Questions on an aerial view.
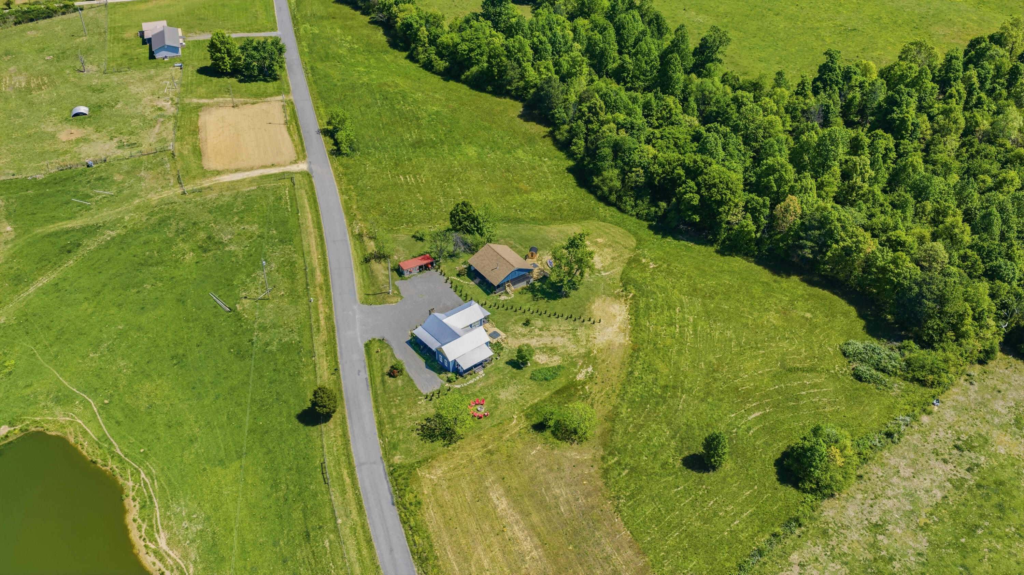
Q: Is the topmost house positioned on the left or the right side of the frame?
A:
left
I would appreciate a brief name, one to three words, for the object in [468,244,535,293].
house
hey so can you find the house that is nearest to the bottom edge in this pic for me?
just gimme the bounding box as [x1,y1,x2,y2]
[414,300,512,375]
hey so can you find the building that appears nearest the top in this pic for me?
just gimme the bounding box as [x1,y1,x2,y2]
[140,20,186,59]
